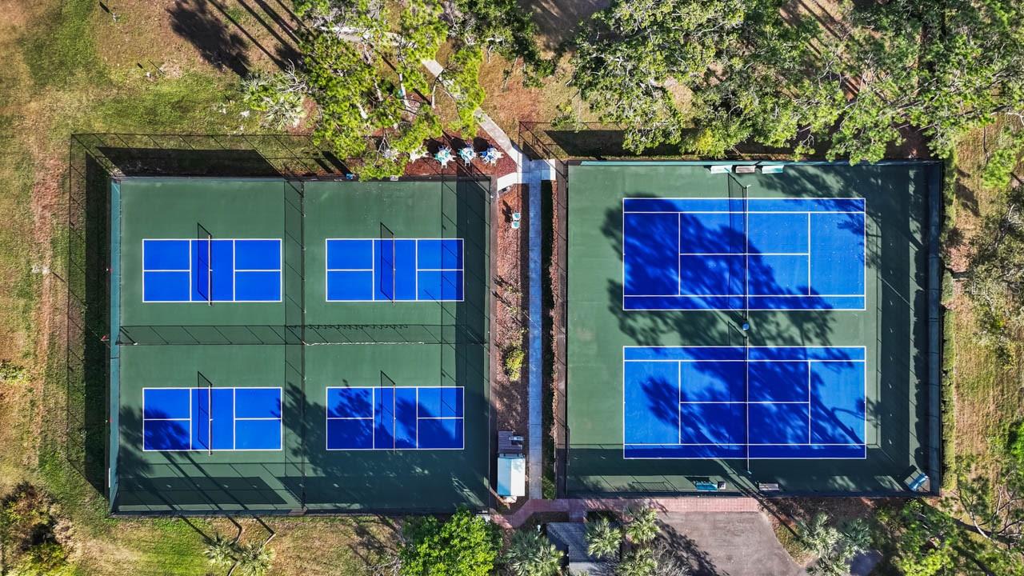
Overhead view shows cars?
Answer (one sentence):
No, the frame has no car in it.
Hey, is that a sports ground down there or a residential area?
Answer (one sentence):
The picture captures a sports ground.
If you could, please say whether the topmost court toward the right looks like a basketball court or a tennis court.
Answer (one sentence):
It looks like the topmost court toward the right is a tennis court.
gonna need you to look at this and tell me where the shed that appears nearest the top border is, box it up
[498,454,526,497]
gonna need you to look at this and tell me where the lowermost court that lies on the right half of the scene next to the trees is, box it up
[569,329,929,492]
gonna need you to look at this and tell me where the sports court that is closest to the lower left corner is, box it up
[119,346,303,510]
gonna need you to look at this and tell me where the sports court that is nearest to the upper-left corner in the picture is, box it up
[119,182,303,344]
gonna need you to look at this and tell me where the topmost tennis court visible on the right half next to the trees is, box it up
[567,168,929,329]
